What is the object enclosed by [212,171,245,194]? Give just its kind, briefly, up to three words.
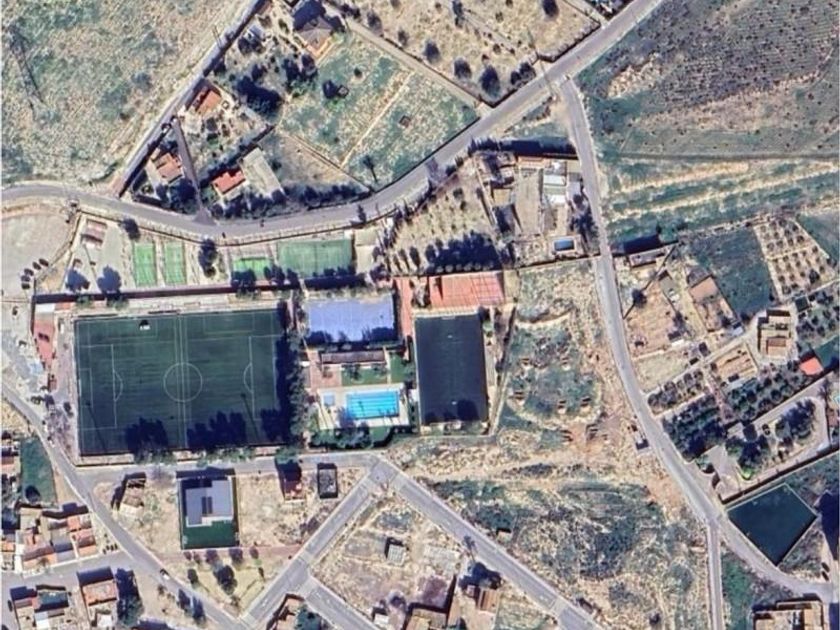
house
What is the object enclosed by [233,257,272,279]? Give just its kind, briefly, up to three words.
sports court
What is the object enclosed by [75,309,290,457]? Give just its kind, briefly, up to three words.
soccer field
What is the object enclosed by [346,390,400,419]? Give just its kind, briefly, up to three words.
swimming pool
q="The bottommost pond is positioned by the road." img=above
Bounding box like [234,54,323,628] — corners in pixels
[726,484,818,562]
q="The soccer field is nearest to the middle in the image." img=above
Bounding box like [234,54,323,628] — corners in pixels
[416,314,488,425]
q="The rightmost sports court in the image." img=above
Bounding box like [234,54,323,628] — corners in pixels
[430,272,505,308]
